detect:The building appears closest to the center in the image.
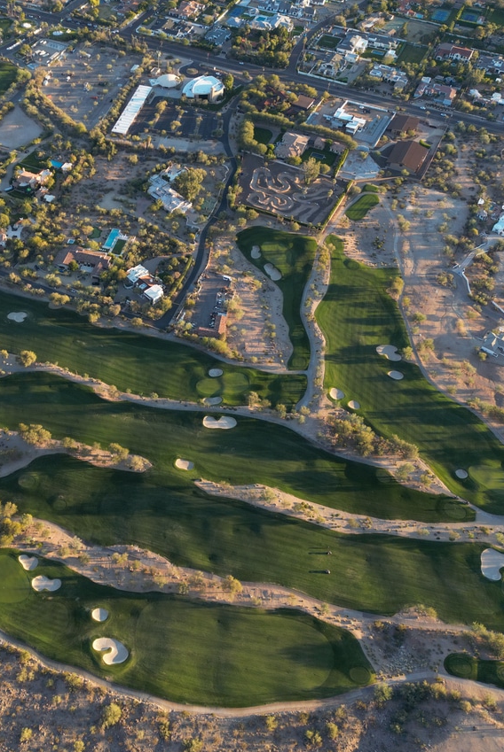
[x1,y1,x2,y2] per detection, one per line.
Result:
[197,317,230,342]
